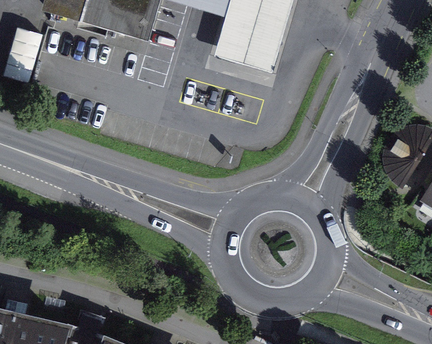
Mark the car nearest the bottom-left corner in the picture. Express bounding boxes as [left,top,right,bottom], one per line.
[150,217,173,234]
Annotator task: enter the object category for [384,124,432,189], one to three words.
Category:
building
